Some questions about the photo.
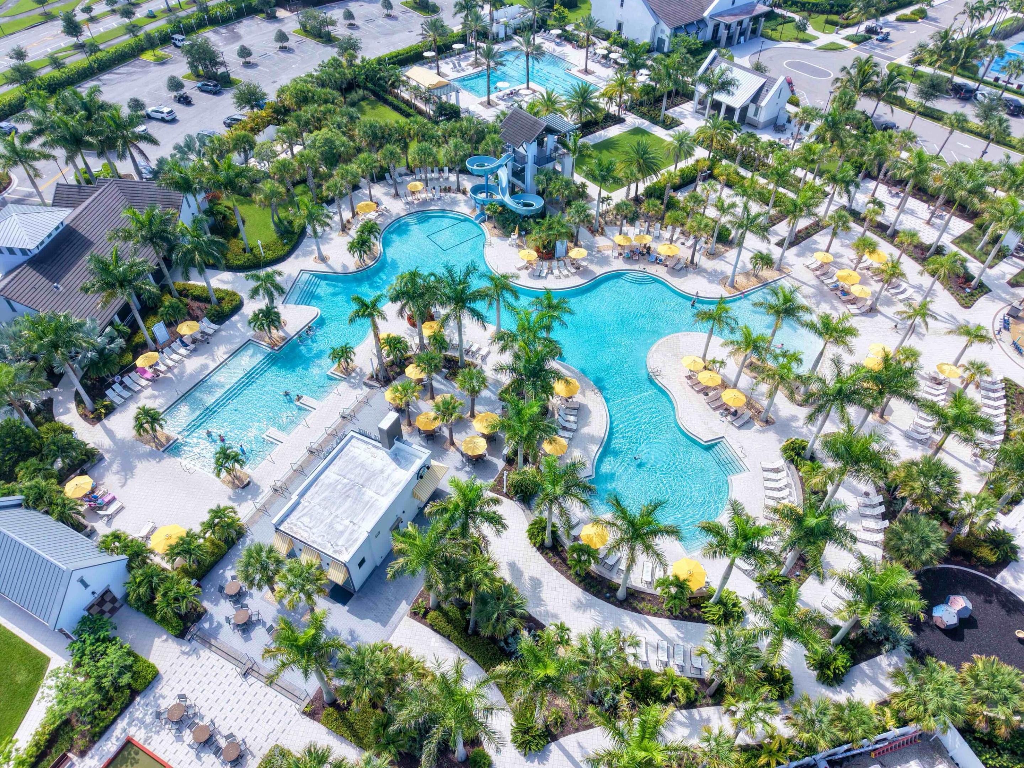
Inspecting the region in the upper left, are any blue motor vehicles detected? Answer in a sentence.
Yes, I can see a blue motor vehicle in the upper left.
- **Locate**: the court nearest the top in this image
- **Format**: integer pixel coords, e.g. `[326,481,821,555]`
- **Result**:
[979,31,1024,83]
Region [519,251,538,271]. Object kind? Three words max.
umbrella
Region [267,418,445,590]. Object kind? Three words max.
building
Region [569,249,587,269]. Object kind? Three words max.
umbrella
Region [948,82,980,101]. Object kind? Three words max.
car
